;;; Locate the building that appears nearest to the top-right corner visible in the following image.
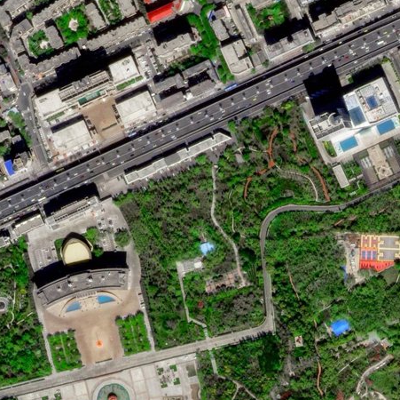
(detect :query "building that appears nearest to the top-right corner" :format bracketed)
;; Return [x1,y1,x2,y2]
[334,0,388,23]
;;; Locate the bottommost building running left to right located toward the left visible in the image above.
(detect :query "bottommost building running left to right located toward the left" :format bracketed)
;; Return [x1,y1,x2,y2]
[37,269,133,308]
